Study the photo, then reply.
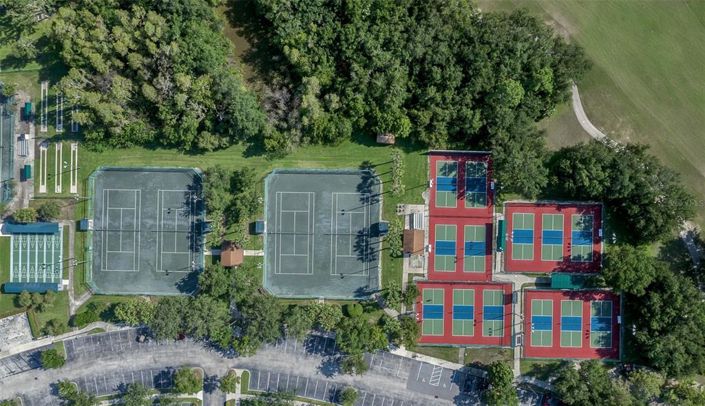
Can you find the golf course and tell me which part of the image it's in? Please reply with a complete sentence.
You can find the golf course in the top right area of the picture.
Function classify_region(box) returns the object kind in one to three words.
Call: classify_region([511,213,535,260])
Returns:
sports court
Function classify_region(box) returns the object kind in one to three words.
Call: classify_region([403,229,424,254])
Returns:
building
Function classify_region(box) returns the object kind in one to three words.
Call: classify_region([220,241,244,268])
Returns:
building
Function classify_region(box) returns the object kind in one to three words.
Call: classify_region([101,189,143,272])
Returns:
tennis court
